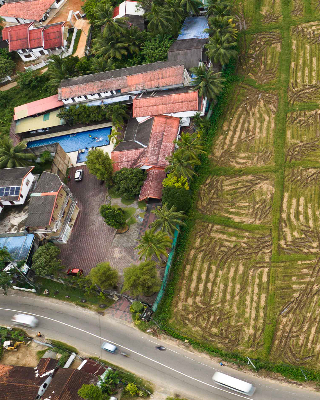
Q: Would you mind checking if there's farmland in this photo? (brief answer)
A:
Yes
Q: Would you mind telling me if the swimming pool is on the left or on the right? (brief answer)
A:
left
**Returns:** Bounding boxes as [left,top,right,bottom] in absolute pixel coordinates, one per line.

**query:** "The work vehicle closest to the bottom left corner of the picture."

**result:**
[3,339,35,353]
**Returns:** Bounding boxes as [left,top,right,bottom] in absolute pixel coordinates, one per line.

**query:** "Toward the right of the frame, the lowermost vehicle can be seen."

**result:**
[208,373,257,399]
